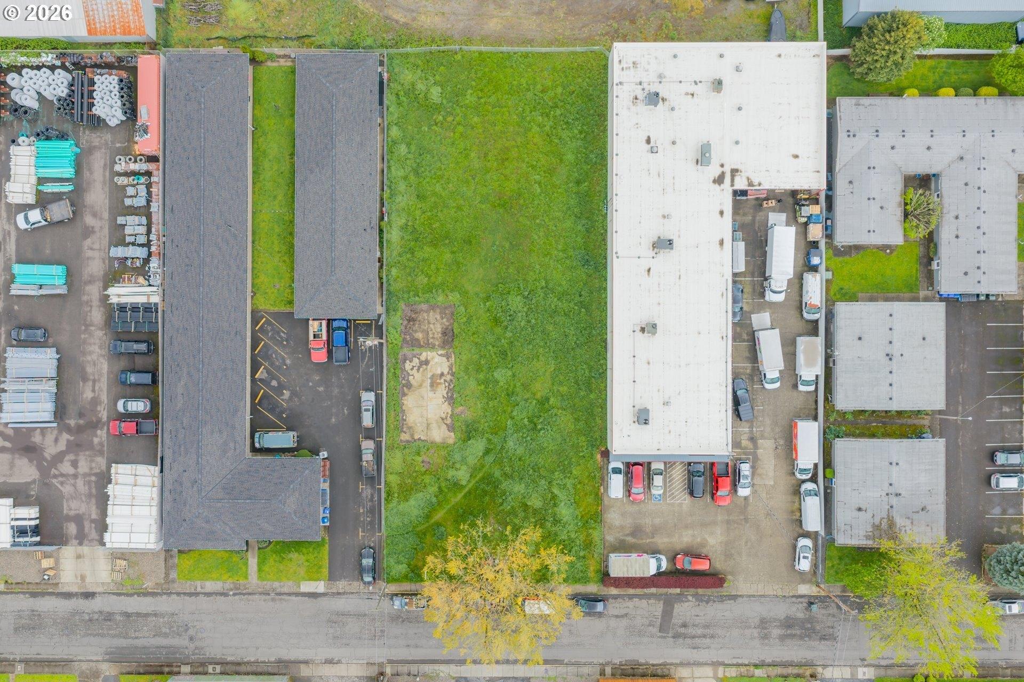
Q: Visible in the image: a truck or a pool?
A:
truck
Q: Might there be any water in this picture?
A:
No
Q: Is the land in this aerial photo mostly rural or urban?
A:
urban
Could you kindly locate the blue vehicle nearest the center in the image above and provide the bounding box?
[330,319,350,365]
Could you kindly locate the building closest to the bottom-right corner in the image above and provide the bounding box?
[833,439,946,547]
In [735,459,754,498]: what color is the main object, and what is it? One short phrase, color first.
white car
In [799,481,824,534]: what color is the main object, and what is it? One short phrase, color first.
white vehicle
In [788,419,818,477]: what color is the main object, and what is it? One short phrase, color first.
white truck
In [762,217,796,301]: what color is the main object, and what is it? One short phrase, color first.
white truck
